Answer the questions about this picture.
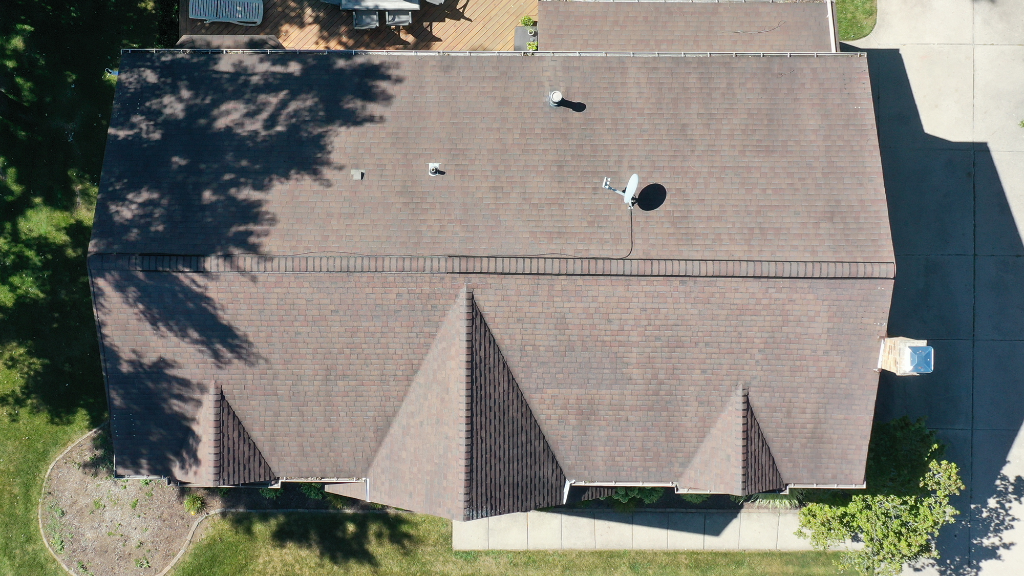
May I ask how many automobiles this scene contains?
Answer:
none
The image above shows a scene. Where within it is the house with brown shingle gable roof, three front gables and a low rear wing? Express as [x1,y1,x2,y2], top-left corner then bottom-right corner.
[88,0,933,522]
